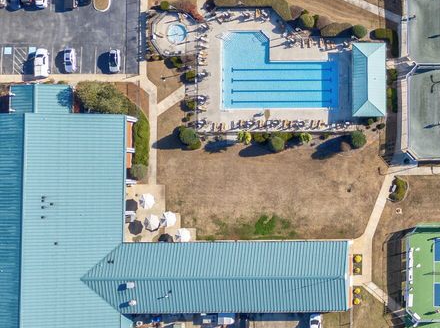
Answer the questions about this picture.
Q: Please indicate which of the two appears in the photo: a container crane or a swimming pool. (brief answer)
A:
swimming pool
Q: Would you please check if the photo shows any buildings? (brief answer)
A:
Yes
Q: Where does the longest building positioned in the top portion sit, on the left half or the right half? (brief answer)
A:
right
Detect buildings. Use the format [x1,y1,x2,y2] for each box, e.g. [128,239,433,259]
[352,43,386,117]
[0,83,355,328]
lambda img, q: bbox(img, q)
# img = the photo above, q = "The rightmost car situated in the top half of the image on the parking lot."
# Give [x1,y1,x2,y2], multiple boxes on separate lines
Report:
[108,49,122,73]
